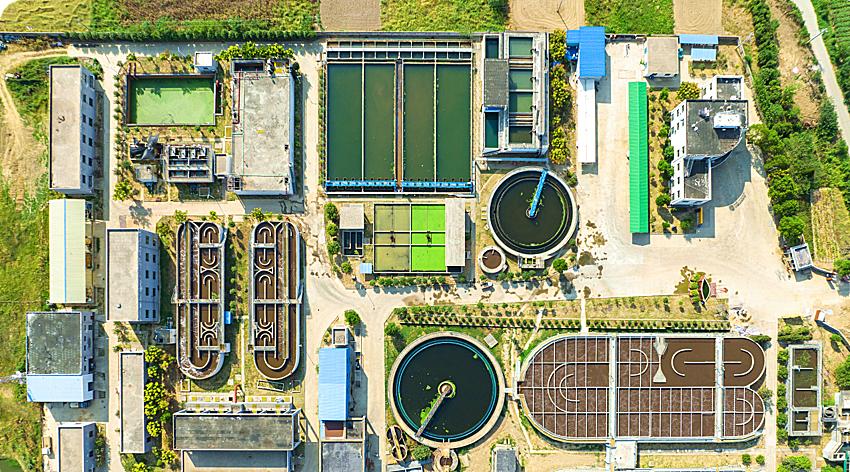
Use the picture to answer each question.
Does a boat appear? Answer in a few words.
No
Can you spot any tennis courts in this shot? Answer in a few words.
No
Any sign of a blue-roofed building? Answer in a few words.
Yes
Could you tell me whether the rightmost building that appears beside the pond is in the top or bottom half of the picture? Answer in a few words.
top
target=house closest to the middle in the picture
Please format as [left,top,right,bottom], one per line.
[446,197,467,268]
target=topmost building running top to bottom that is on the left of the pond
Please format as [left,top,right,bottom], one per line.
[49,65,95,194]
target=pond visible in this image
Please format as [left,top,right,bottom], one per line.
[125,73,220,129]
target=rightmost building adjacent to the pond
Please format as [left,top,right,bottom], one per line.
[232,60,295,196]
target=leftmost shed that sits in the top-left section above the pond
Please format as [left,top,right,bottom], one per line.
[195,52,219,74]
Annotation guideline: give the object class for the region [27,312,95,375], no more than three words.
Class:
building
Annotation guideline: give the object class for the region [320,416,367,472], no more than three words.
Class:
house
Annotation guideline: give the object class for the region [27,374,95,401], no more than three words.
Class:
building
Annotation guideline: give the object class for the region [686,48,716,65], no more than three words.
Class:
shed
